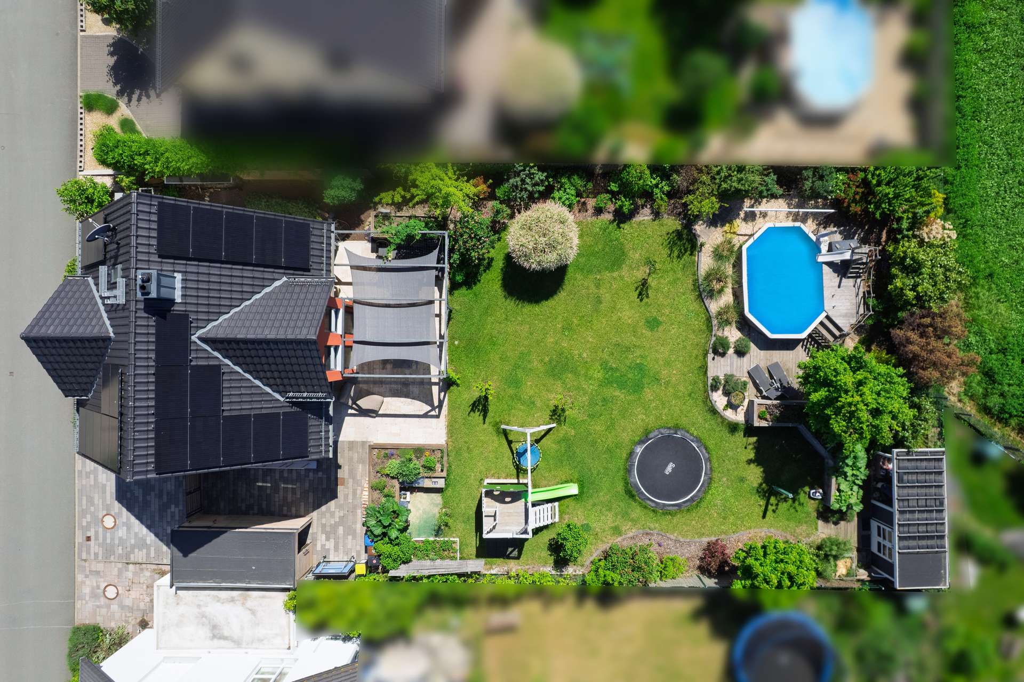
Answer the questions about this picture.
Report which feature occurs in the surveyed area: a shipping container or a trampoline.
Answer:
trampoline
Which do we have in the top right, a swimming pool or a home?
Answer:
swimming pool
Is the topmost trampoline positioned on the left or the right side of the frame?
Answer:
right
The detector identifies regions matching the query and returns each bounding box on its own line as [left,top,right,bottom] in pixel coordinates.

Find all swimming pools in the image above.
[781,0,875,122]
[738,222,827,338]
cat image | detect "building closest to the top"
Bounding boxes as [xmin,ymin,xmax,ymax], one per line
[157,0,445,119]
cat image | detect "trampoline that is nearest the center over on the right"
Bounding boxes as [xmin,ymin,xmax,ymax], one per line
[627,427,711,511]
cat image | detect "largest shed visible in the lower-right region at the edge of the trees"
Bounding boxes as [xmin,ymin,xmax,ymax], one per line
[867,444,949,589]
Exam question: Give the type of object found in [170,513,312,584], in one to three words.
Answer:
shed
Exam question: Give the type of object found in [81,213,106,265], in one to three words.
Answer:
solar panel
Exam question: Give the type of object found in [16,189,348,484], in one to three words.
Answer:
house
